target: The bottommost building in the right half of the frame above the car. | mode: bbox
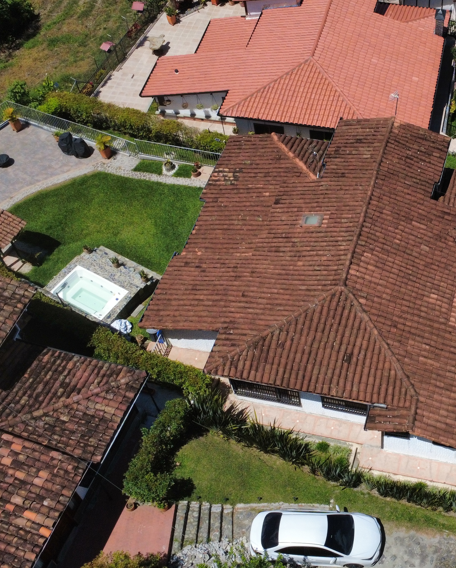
[138,116,456,462]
